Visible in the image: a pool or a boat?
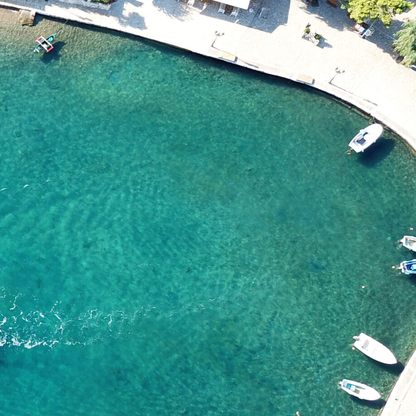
boat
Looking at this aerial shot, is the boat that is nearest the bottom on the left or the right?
right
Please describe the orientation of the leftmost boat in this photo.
diagonally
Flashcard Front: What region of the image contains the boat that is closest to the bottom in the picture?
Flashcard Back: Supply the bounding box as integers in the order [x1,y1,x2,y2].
[335,378,382,399]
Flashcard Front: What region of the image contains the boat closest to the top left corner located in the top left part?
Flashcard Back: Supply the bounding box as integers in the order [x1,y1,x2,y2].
[34,22,65,53]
